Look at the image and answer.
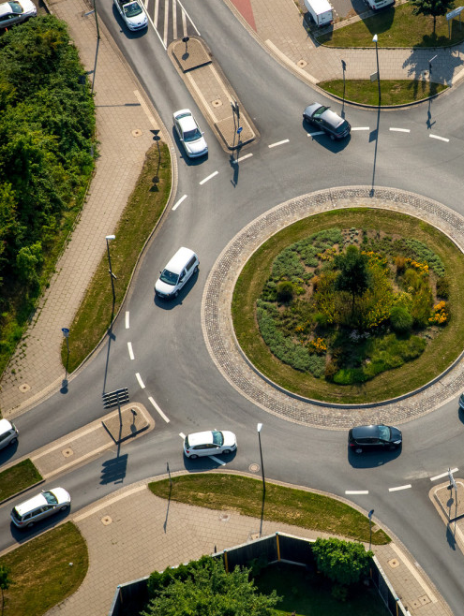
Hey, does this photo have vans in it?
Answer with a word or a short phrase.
Yes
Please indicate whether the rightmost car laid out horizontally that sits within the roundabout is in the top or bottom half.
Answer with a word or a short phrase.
bottom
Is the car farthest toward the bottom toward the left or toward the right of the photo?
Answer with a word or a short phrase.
left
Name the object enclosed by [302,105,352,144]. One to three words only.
car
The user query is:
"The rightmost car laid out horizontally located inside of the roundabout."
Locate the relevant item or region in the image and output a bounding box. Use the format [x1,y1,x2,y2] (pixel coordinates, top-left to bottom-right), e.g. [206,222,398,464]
[348,426,402,452]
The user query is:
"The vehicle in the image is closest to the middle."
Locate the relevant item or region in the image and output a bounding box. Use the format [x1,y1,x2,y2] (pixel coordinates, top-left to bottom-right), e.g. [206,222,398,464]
[156,249,200,299]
